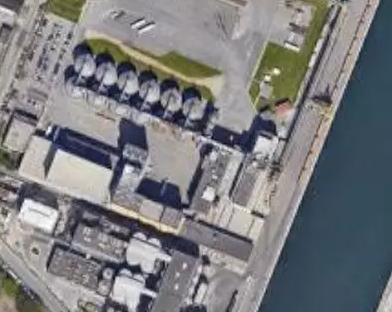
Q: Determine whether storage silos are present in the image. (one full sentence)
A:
Yes, there's a storage silo down there.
